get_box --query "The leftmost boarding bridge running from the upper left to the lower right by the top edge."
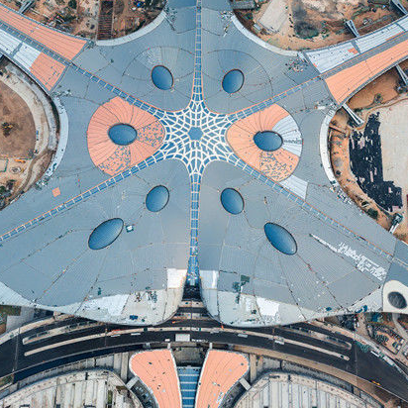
[342,18,363,41]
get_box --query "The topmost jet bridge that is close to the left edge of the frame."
[18,0,37,15]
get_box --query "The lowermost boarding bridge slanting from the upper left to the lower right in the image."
[342,101,367,129]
